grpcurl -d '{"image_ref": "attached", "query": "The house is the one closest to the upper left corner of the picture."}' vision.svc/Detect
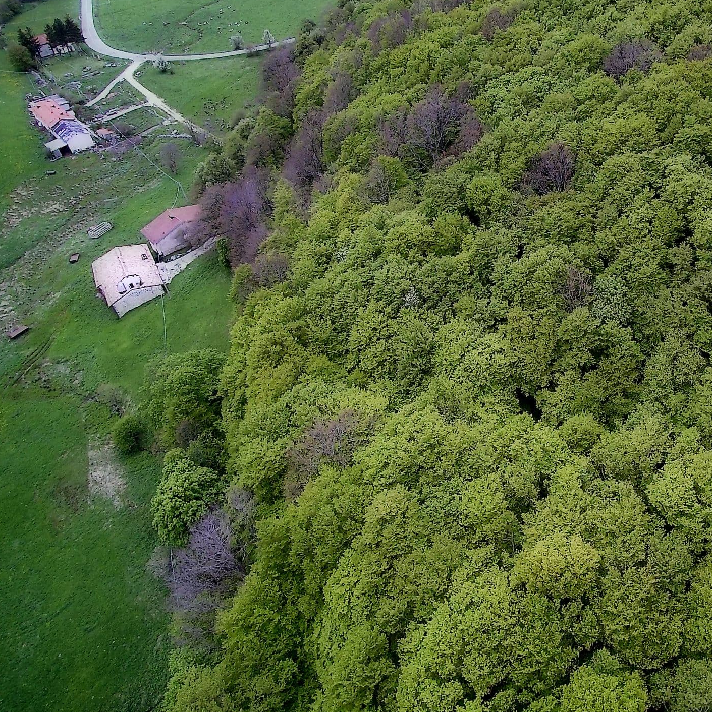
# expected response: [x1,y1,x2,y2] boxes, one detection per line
[30,34,91,59]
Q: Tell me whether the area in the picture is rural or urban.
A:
rural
